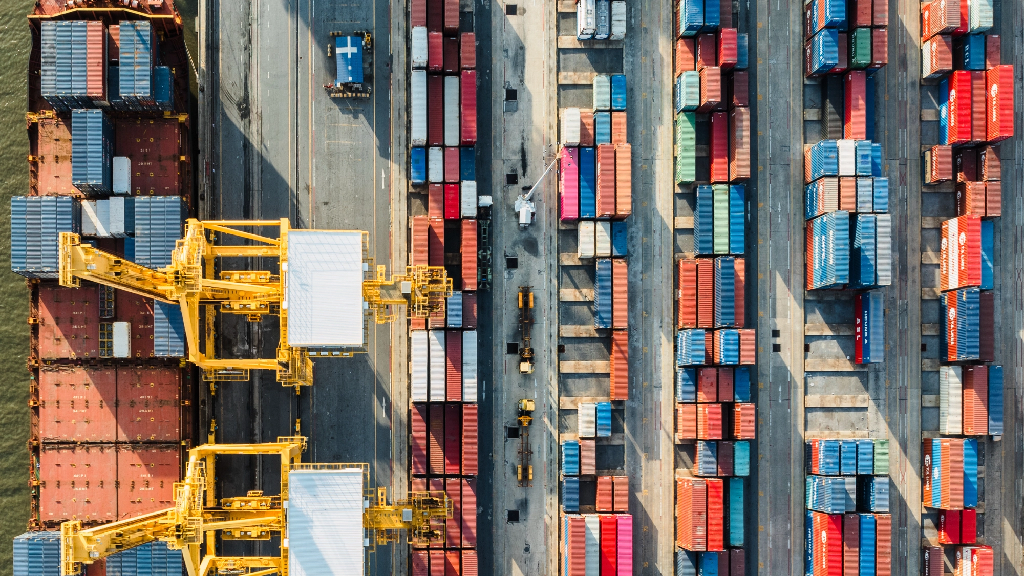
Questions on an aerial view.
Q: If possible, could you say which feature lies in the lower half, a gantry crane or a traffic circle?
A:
gantry crane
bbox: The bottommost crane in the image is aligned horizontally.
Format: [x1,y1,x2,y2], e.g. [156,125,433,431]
[54,421,456,576]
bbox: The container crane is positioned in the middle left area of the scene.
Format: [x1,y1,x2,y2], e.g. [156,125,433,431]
[53,216,455,397]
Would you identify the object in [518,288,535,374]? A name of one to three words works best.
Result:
vehicle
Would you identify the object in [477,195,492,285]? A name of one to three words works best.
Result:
vehicle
